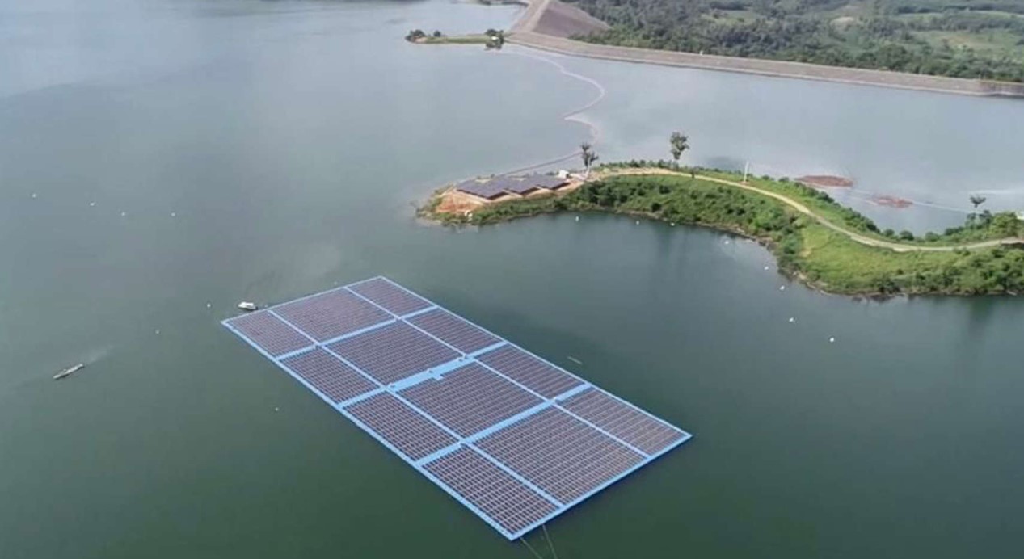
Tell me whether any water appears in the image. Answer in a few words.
Yes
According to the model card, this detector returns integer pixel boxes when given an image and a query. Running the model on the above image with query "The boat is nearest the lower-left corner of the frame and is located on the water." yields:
[54,363,85,377]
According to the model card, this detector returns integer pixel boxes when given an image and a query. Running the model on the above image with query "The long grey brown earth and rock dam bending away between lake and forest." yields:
[510,0,1024,95]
